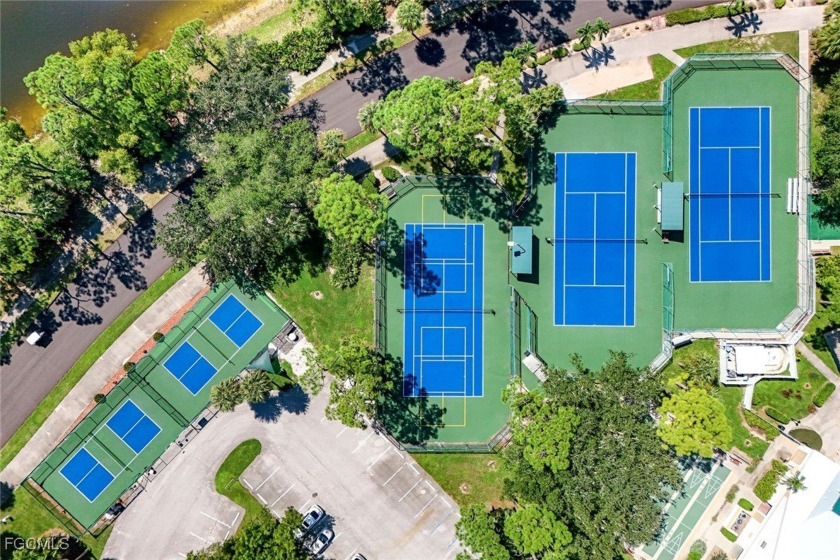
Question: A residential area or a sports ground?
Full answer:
The area seen from above is a sports ground.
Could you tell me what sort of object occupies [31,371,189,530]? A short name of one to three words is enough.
sports court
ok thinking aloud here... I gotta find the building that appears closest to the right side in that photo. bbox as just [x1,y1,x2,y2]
[808,321,840,376]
